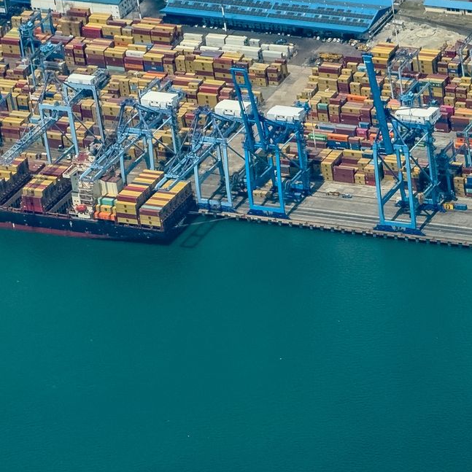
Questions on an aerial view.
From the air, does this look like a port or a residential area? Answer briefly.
port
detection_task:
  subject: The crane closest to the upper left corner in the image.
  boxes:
[15,15,54,56]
